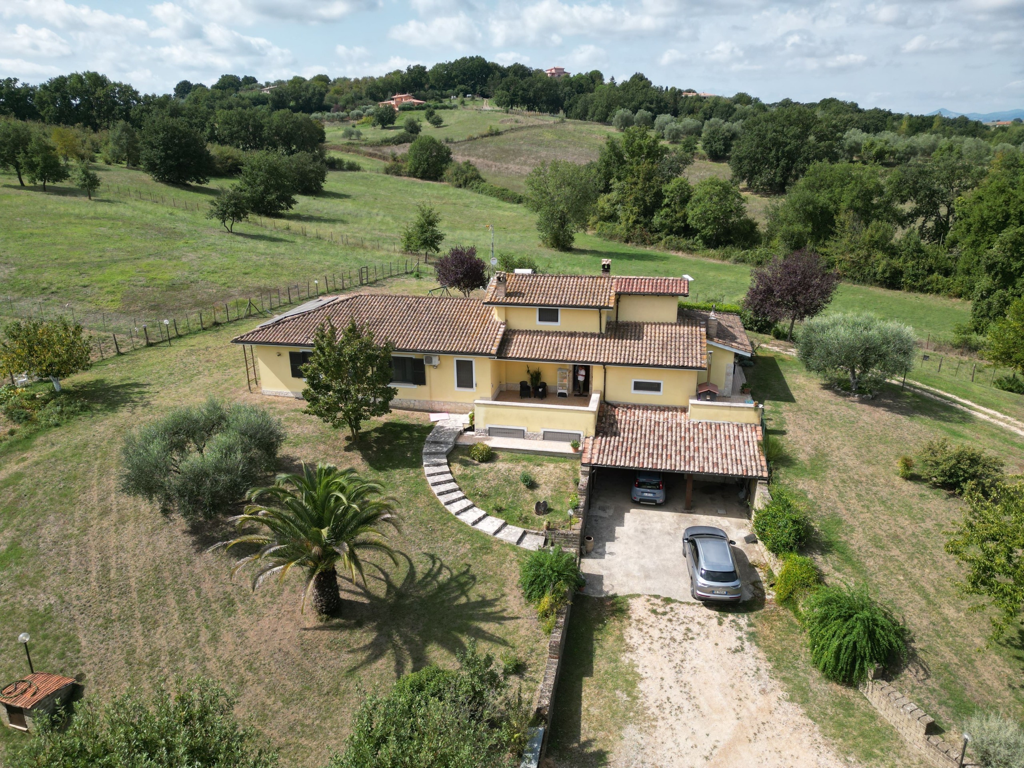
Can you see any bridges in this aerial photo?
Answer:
No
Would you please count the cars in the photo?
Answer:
2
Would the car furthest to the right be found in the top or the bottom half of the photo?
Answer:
bottom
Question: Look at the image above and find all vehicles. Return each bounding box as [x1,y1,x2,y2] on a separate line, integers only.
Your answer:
[630,472,665,505]
[685,531,746,608]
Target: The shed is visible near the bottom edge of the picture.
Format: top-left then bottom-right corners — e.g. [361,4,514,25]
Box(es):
[0,670,70,738]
